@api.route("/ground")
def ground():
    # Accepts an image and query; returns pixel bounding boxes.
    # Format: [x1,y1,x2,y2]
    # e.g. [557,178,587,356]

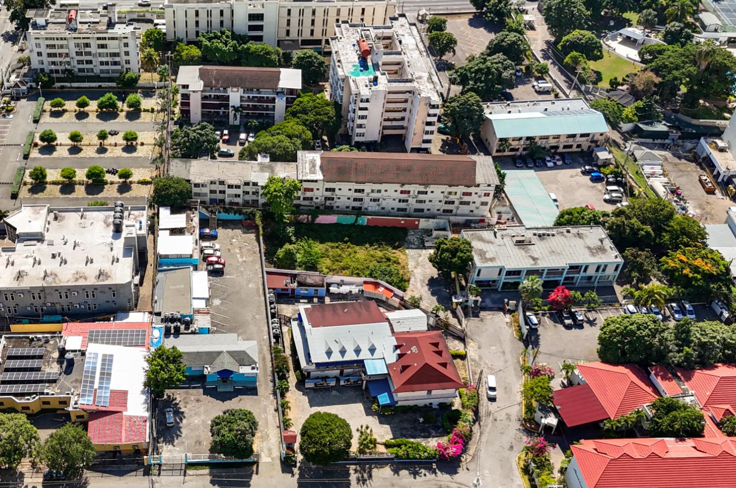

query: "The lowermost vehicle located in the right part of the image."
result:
[484,373,500,398]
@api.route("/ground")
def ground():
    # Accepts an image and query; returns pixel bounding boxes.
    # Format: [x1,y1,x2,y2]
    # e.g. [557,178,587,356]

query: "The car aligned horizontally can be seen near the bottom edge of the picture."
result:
[41,469,68,482]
